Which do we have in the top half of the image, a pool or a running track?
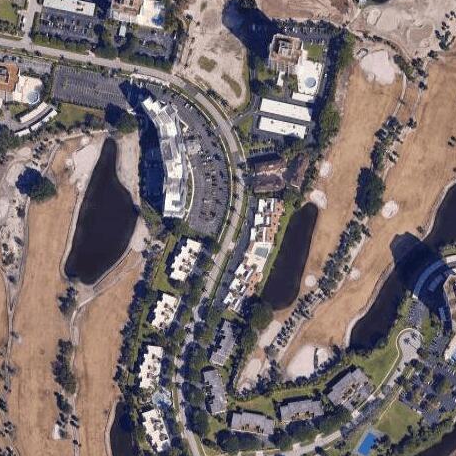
pool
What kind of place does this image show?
golf course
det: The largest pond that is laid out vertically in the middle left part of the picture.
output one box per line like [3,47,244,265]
[65,138,138,283]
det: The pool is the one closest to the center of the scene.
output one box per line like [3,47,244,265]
[247,243,272,272]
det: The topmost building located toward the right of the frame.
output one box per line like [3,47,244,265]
[269,33,303,72]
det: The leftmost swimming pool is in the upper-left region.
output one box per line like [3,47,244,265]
[17,76,43,104]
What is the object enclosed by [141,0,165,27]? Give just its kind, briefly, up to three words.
swimming pool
